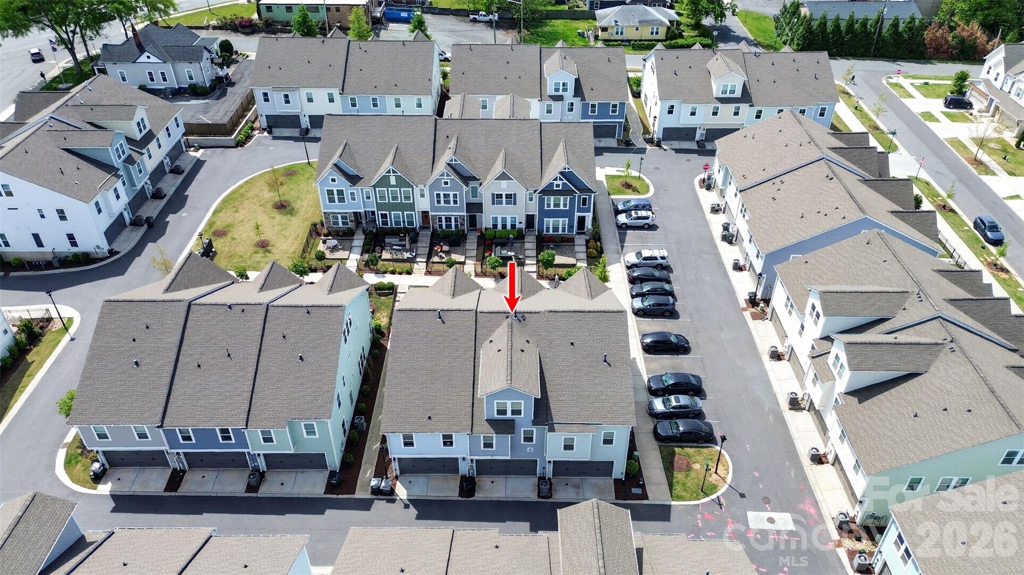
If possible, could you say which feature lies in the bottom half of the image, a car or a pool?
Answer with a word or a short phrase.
car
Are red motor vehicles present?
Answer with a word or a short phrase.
No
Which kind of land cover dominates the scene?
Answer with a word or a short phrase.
buildings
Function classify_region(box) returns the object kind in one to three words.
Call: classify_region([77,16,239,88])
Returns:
house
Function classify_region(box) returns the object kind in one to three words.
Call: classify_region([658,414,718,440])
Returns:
car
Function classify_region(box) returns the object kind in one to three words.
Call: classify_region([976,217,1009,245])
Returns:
car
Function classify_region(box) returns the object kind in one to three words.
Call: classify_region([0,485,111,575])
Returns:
house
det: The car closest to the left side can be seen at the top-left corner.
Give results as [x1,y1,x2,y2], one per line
[28,47,50,61]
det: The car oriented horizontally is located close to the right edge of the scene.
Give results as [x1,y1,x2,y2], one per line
[941,94,975,108]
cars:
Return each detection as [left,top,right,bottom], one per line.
[650,390,708,415]
[647,369,703,392]
[640,329,692,351]
[625,246,670,267]
[658,414,718,440]
[619,210,659,228]
[439,50,451,61]
[627,264,672,282]
[630,279,677,298]
[941,94,975,108]
[616,198,655,215]
[28,47,50,61]
[633,293,680,316]
[976,217,1009,245]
